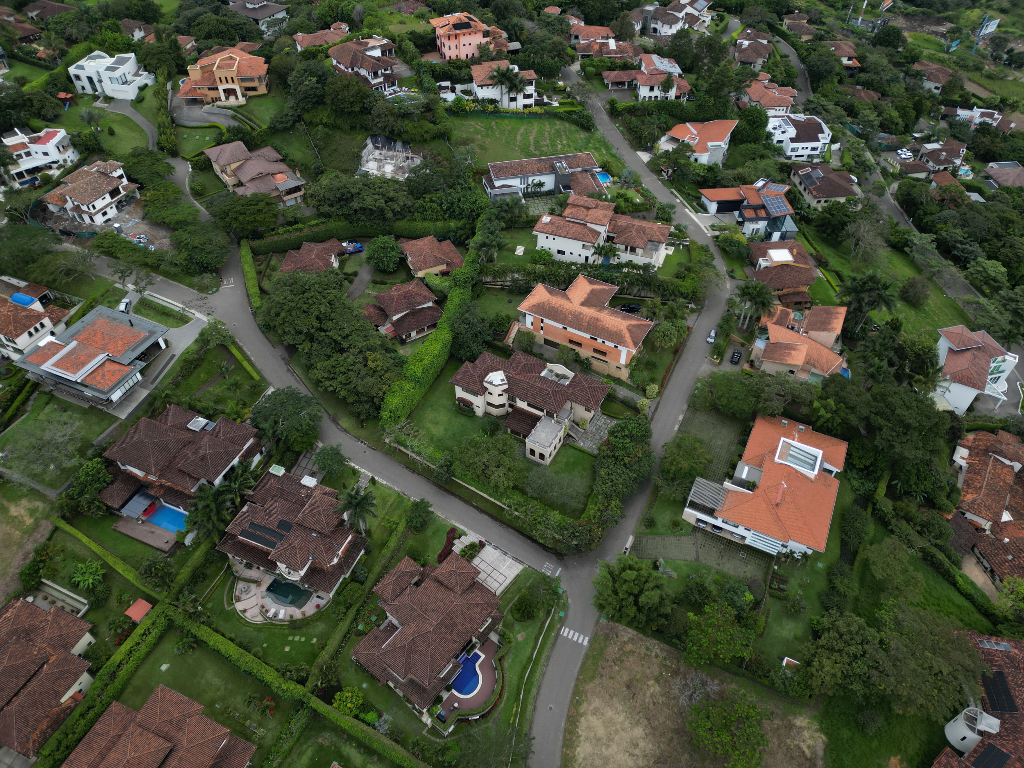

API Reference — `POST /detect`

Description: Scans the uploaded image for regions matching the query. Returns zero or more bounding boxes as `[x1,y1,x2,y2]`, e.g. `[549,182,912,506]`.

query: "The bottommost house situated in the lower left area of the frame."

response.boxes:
[58,683,259,768]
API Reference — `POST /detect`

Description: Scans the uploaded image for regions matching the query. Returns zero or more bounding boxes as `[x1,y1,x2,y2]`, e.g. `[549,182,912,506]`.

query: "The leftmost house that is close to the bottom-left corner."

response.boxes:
[0,597,100,762]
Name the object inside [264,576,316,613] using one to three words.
swimming pool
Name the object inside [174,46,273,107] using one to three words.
house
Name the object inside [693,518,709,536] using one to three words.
car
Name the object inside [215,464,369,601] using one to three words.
house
